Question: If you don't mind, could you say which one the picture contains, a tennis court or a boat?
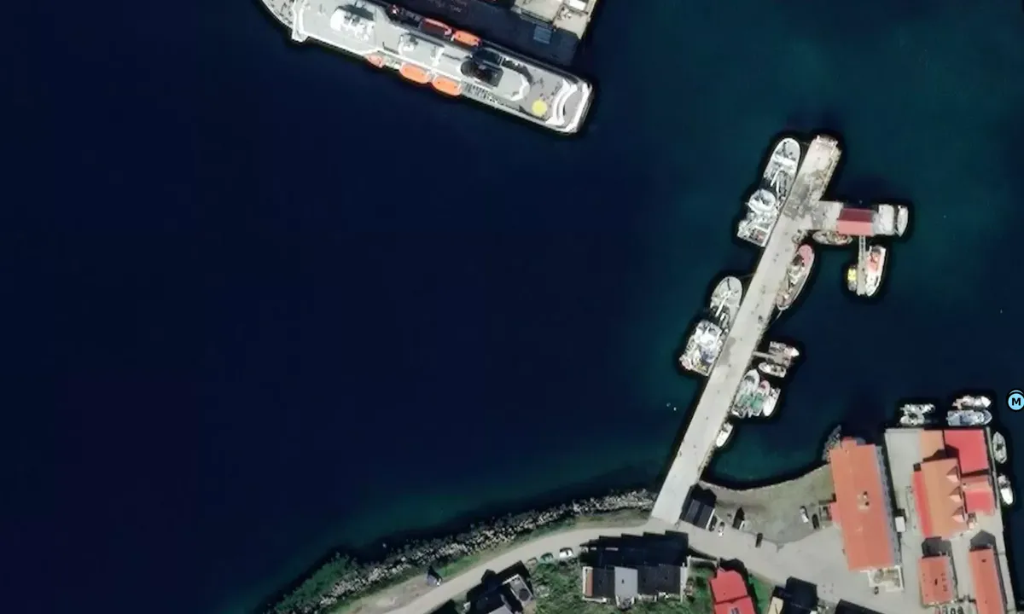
boat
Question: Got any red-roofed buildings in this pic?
Yes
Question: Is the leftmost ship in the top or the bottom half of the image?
top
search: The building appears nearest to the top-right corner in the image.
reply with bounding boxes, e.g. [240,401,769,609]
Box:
[838,209,875,237]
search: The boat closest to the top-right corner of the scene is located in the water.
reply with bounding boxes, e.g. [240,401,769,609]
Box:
[896,205,909,236]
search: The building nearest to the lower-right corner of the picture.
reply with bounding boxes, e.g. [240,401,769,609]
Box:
[970,549,1006,614]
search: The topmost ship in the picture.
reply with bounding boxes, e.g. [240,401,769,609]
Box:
[267,0,595,133]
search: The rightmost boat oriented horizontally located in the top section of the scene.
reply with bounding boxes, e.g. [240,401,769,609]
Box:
[812,232,853,247]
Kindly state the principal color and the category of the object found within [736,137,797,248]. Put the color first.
white vessel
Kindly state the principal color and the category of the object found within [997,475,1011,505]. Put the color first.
white boat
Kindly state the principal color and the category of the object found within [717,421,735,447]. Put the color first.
white boat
